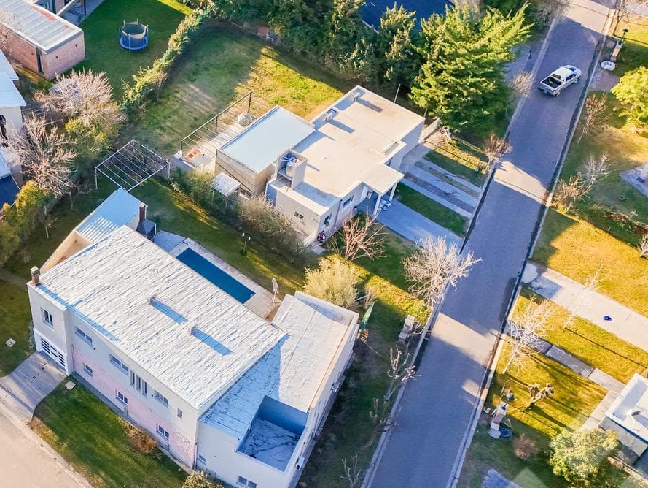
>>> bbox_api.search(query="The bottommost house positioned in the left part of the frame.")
[23,188,359,488]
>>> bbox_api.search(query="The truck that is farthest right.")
[542,70,585,99]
